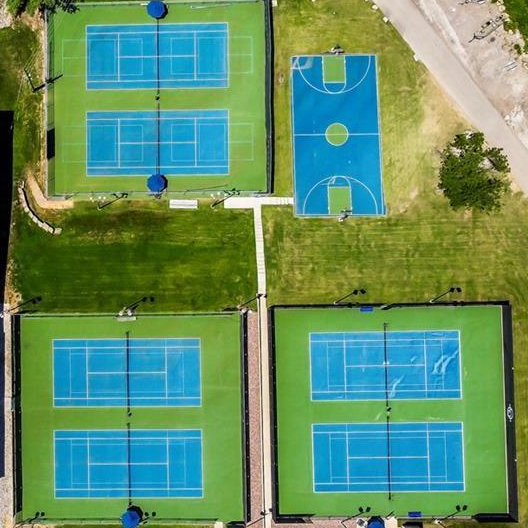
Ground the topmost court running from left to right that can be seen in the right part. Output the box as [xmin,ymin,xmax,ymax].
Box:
[272,307,505,412]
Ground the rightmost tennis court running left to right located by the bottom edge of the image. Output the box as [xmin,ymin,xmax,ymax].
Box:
[272,410,508,517]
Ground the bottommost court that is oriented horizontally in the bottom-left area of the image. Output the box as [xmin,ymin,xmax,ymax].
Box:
[18,418,245,522]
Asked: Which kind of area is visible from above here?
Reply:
sports ground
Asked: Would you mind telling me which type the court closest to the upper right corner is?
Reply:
basketball court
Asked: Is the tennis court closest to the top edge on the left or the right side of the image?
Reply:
left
